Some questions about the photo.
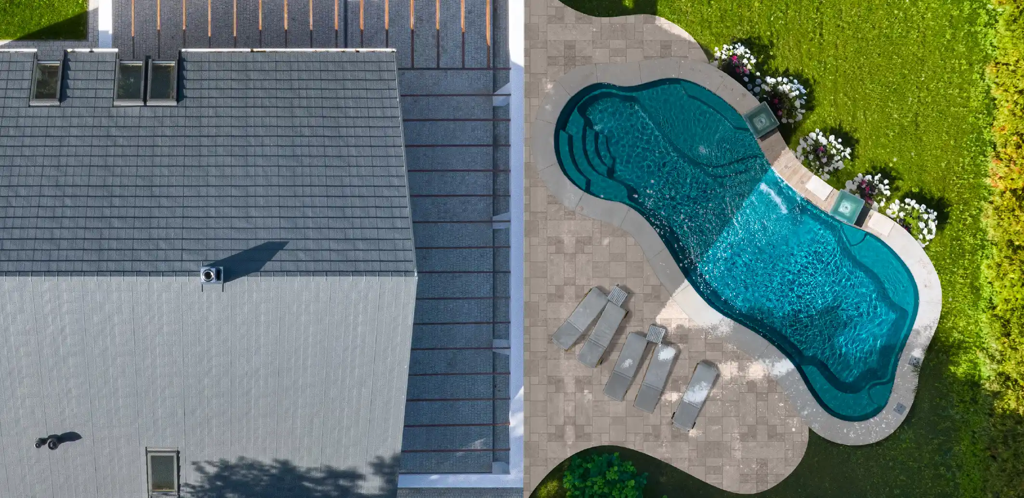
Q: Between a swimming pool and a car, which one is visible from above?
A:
swimming pool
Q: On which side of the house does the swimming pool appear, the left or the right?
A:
on the right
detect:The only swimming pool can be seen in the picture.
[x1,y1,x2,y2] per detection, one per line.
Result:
[533,57,942,446]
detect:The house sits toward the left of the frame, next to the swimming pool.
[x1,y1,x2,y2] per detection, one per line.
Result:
[0,47,420,498]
